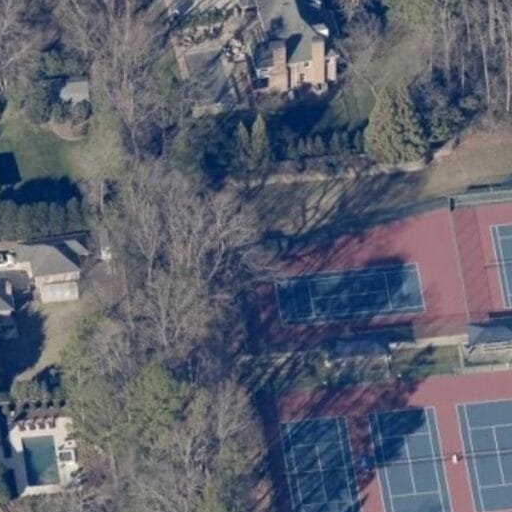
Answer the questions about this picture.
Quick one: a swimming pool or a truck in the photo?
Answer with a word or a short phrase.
swimming pool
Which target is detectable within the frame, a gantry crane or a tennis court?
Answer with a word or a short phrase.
tennis court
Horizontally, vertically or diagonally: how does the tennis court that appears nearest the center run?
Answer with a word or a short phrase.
horizontally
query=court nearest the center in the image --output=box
[275,263,425,328]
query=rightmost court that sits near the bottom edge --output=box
[456,399,512,512]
